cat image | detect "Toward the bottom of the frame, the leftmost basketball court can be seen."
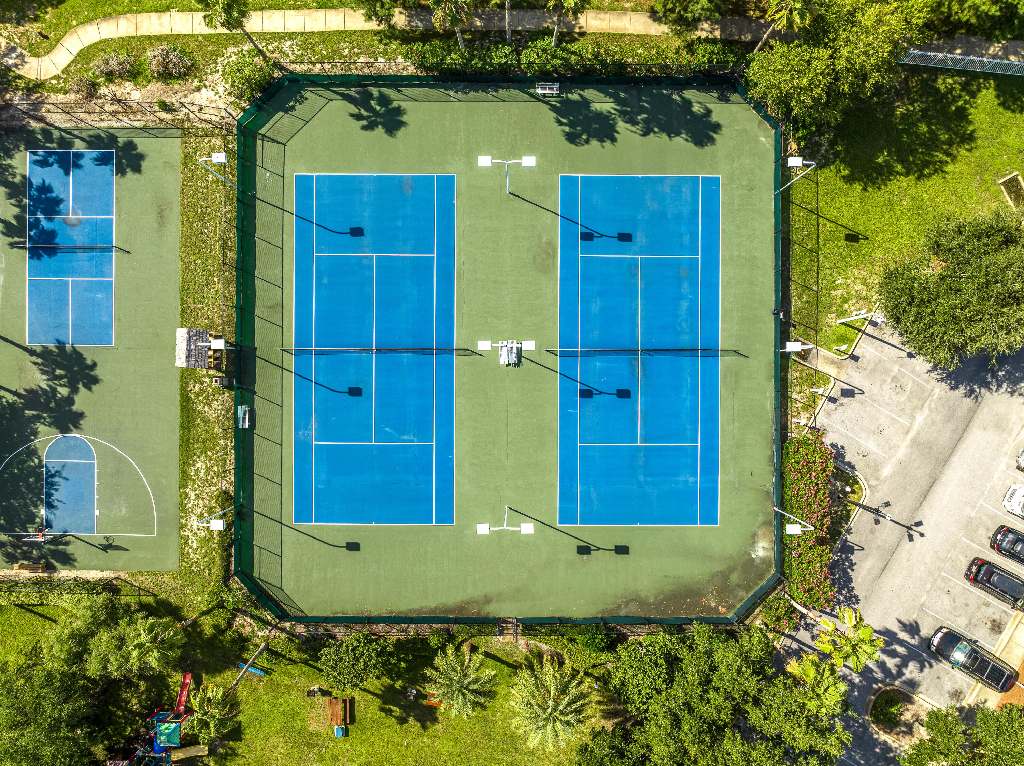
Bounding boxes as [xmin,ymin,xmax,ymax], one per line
[0,435,156,536]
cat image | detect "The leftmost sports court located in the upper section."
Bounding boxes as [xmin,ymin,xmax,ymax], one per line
[26,150,115,346]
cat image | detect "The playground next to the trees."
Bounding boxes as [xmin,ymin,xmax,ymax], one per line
[105,672,210,766]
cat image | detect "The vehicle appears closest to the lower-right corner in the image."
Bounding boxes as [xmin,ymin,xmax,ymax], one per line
[926,629,1012,693]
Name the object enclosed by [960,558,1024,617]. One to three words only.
car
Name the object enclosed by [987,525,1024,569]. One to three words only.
car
